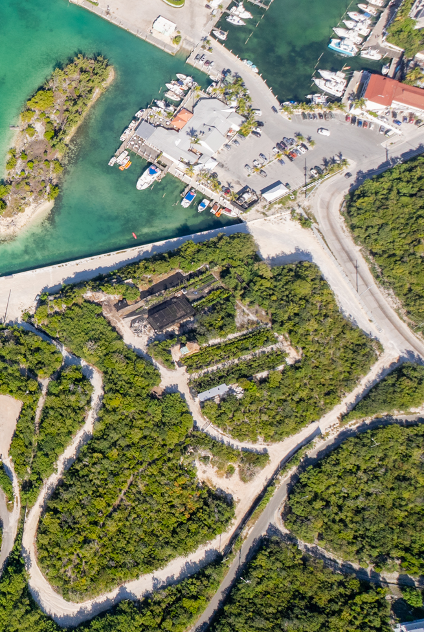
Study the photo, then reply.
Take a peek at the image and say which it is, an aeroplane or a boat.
boat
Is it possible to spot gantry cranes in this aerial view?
No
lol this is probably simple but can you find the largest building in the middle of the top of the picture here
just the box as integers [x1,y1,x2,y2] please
[144,99,246,169]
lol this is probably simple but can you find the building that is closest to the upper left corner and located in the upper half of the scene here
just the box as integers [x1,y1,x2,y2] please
[151,16,176,39]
